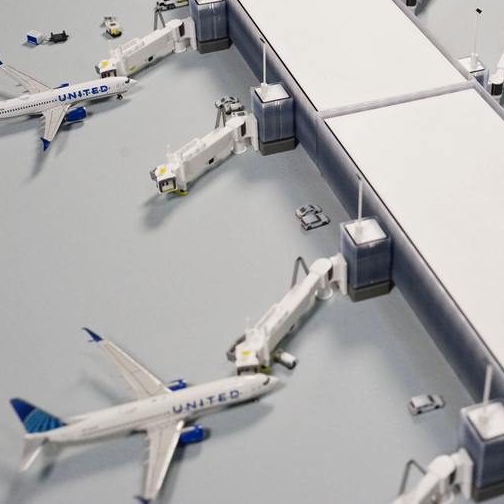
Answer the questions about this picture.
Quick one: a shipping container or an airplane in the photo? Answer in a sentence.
This aerial view contains an airplane.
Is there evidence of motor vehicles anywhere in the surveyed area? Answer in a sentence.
Yes, I can see a motor vehicle in this picture.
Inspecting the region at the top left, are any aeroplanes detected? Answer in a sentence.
Yes, an aeroplane appears at the top left.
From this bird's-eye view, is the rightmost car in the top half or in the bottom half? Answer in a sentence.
It is in the bottom half that the rightmost car appears.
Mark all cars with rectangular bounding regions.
[295,204,323,218]
[215,96,239,108]
[302,213,330,229]
[409,393,443,413]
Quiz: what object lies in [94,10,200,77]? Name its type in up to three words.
jet bridge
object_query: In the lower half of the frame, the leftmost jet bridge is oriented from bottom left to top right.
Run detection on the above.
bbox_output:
[227,251,350,376]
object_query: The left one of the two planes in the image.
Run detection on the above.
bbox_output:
[0,60,136,148]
